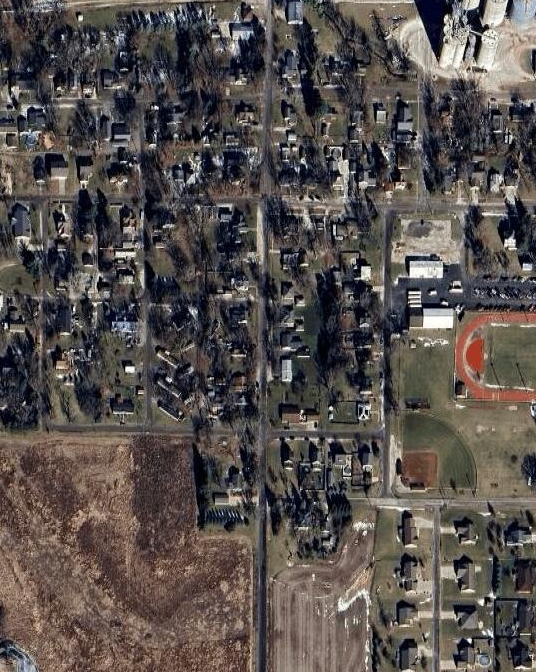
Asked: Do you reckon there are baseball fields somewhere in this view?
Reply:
Yes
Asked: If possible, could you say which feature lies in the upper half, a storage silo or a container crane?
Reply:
storage silo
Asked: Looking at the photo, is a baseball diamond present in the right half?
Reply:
Yes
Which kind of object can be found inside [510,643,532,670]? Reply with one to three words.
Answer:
house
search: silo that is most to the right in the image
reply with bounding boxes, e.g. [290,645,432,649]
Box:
[510,0,536,24]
